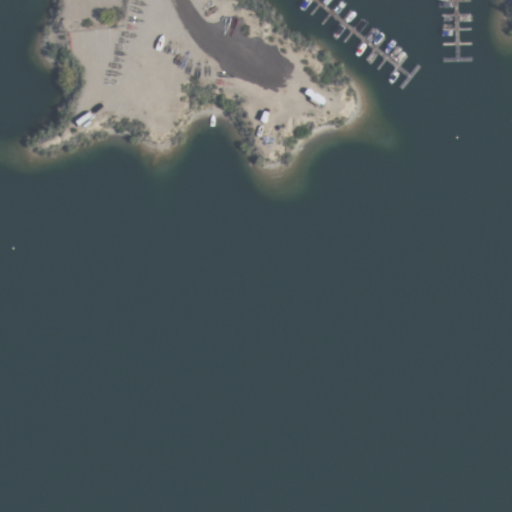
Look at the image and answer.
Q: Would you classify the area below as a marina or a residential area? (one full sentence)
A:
What you see here is a marina.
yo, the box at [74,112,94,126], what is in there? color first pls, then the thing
white vehicle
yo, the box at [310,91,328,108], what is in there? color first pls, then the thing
white vehicle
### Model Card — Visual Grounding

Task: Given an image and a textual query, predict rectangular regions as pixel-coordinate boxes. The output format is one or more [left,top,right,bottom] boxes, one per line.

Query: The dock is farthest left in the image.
[310,0,422,88]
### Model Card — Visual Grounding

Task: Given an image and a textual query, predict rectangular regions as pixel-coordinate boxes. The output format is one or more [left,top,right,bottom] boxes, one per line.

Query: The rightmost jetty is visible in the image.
[441,0,472,62]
